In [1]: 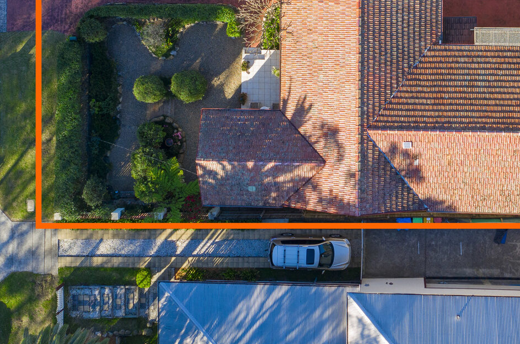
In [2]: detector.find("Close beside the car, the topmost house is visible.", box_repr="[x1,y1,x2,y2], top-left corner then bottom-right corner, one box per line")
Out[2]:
[196,0,520,217]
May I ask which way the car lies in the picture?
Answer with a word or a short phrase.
from side to side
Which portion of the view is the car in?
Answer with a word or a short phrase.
bottom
